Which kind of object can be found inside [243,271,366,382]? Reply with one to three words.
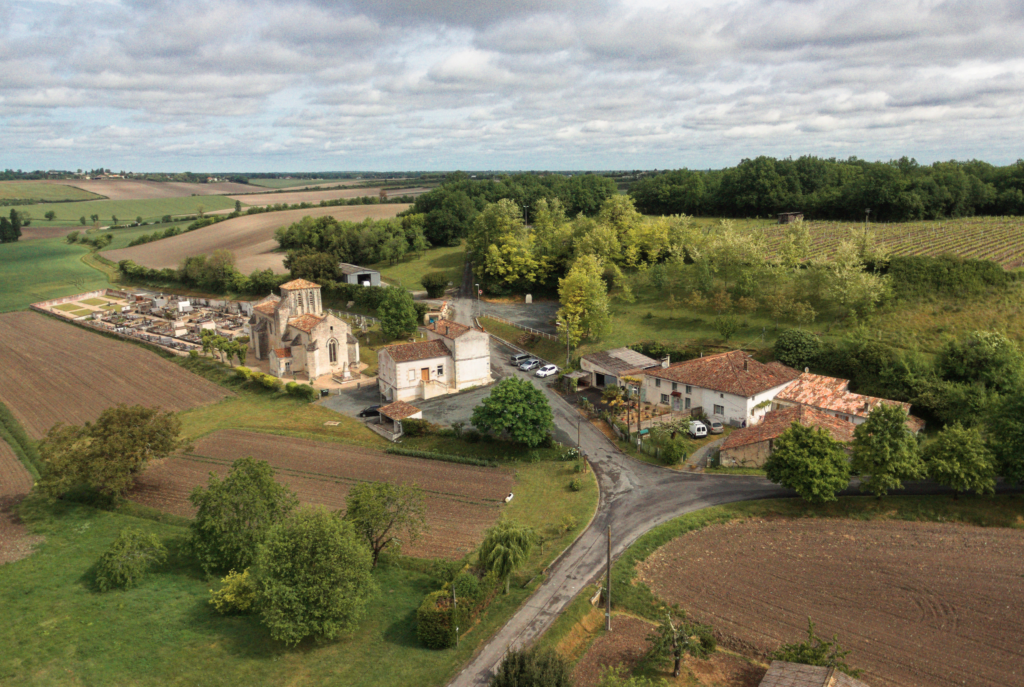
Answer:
building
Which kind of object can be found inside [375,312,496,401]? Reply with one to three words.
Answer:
building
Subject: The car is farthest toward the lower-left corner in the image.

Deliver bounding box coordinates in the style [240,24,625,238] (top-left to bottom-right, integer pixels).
[355,405,382,418]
